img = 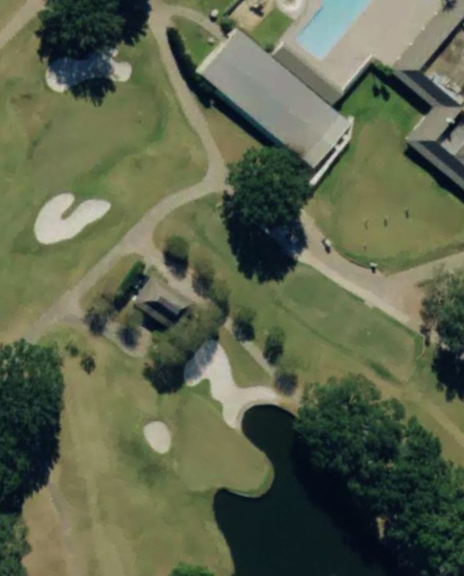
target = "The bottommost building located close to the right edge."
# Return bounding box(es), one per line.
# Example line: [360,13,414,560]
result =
[405,105,464,192]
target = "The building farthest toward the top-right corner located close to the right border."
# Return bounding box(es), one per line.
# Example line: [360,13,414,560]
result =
[394,69,464,110]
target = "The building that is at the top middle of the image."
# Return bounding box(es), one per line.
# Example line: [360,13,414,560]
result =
[195,28,357,190]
